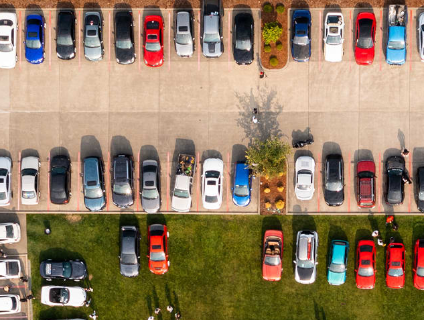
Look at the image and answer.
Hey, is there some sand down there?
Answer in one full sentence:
No, the picture contains no sand.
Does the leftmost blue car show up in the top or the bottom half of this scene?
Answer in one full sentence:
The leftmost blue car is in the top half of the image.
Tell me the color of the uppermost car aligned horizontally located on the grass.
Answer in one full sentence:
In this view, the uppermost car aligned horizontally located on the grass is black.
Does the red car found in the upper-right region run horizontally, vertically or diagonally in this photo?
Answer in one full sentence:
In this picture, the red car found in the upper-right region lies vertically.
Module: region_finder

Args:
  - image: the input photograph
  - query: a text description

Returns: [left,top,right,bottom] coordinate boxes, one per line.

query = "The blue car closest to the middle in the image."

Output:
[230,160,254,208]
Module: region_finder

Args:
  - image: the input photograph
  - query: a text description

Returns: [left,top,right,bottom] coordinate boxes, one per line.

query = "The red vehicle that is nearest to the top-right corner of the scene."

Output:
[354,12,378,66]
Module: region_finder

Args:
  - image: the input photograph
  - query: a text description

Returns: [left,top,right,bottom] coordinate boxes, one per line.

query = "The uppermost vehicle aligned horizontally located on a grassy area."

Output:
[40,258,87,281]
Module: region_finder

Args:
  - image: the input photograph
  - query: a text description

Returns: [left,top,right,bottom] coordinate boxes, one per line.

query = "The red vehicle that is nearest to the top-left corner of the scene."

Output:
[141,14,165,68]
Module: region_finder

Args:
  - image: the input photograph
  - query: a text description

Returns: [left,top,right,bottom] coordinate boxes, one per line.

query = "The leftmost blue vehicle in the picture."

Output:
[23,14,47,65]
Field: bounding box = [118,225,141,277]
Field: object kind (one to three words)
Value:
car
